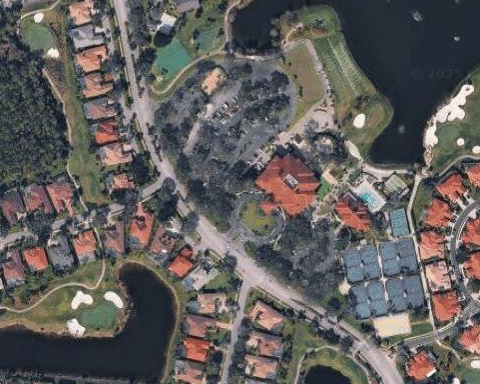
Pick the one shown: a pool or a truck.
pool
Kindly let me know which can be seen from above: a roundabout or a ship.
roundabout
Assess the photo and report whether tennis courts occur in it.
Yes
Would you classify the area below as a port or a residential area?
residential area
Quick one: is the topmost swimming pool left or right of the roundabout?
on its right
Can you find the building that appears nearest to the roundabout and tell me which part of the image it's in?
center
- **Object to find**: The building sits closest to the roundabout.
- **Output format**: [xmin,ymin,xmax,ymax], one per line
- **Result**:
[251,150,324,220]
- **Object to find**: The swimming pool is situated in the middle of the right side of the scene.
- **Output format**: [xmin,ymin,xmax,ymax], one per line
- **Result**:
[353,180,385,212]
